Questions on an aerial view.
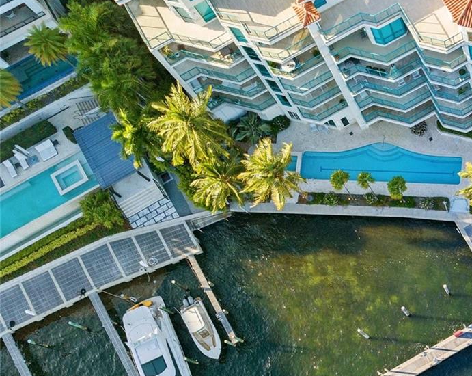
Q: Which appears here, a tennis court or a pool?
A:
pool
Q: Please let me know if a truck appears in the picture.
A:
No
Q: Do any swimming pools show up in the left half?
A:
Yes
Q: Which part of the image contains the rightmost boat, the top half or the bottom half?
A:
bottom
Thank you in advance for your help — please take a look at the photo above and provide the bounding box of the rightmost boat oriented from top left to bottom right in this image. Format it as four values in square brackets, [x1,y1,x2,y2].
[179,300,222,359]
